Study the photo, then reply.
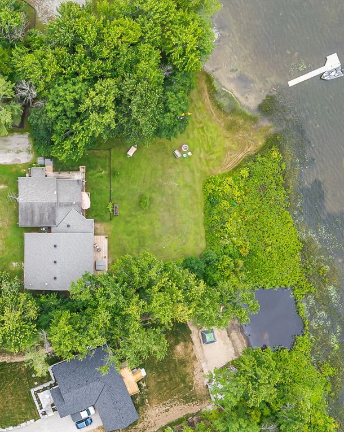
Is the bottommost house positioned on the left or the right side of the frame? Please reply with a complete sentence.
You can find the bottommost house on the left side of the picture.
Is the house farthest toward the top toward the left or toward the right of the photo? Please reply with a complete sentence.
The house farthest toward the top is on the left side of the image.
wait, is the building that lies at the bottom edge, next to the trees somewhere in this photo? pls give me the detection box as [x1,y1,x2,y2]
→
[50,344,144,431]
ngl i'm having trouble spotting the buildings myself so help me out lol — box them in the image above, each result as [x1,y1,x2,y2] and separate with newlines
[50,344,144,431]
[7,165,108,291]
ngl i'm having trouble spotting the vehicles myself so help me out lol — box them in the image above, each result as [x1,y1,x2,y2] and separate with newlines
[75,416,93,429]
[70,406,95,422]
